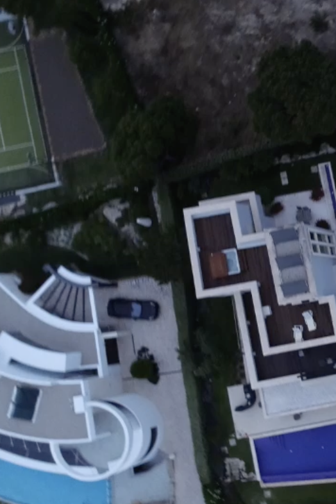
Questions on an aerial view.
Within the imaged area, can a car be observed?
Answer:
Yes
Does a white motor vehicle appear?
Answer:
No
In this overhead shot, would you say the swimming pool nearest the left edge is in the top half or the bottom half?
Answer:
bottom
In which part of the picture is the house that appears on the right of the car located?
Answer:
right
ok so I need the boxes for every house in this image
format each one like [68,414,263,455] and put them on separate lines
[183,191,336,418]
[0,263,166,482]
